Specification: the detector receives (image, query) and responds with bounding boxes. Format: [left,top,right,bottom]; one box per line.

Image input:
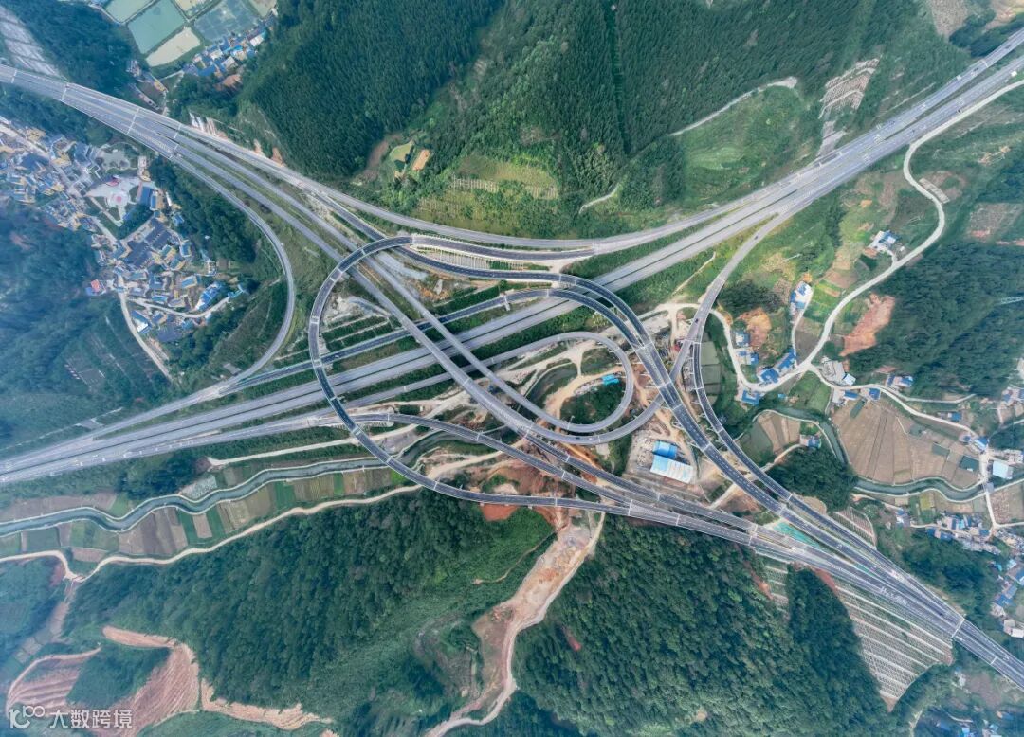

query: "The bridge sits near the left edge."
[0,72,182,155]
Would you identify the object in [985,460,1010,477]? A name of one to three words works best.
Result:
house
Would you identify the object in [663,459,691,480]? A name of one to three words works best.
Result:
shed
